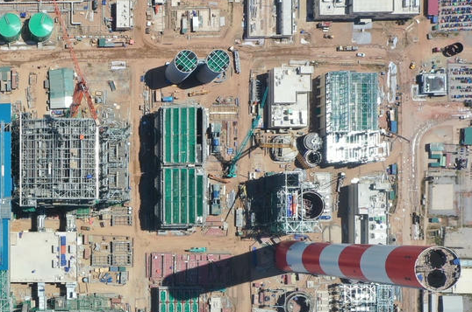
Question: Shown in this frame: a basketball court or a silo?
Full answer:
There is a silo in the scene.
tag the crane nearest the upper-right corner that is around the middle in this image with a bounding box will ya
[224,87,268,185]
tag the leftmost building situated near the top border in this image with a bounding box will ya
[115,0,132,32]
